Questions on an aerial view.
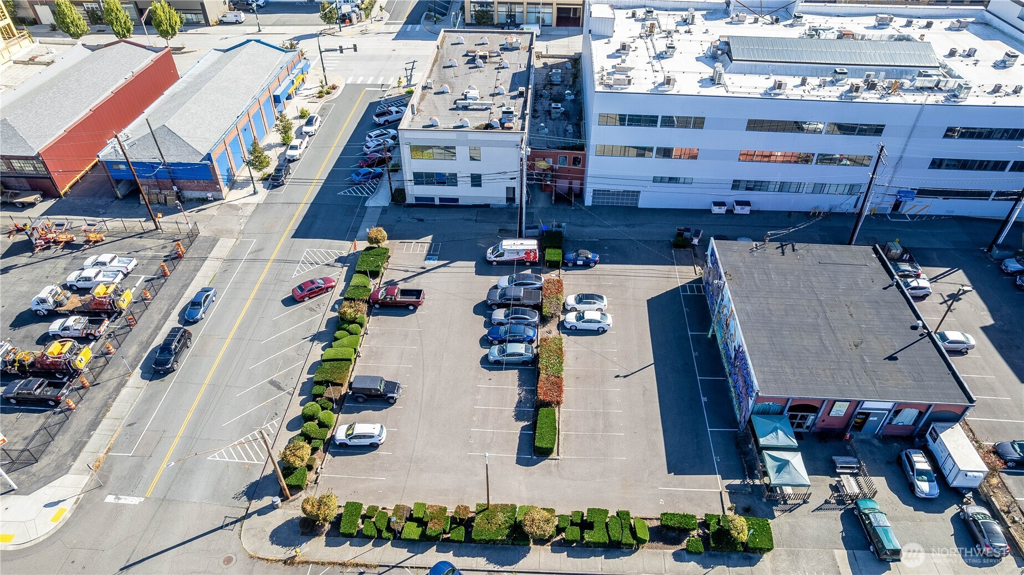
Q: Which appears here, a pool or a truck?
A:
truck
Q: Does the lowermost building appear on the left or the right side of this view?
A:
right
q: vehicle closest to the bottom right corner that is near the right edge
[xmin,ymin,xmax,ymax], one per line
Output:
[958,503,1014,564]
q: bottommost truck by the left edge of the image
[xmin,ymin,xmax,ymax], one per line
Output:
[2,378,76,406]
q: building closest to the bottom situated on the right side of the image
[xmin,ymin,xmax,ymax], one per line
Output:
[702,236,982,444]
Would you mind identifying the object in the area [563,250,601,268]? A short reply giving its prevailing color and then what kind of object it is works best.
blue car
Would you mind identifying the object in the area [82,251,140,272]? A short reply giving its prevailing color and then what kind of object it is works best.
white truck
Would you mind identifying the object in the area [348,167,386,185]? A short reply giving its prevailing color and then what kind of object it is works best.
blue car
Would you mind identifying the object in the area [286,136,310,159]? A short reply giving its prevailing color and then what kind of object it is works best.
white truck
